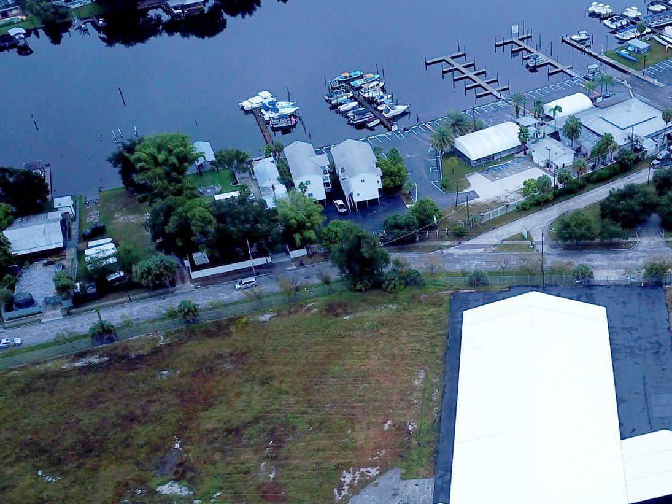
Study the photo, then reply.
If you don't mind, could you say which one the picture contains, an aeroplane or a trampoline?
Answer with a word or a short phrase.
trampoline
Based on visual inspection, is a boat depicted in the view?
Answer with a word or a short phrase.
Yes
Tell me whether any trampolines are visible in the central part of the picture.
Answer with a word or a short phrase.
No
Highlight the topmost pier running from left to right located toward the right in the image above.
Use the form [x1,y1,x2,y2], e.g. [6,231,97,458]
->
[585,0,672,45]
